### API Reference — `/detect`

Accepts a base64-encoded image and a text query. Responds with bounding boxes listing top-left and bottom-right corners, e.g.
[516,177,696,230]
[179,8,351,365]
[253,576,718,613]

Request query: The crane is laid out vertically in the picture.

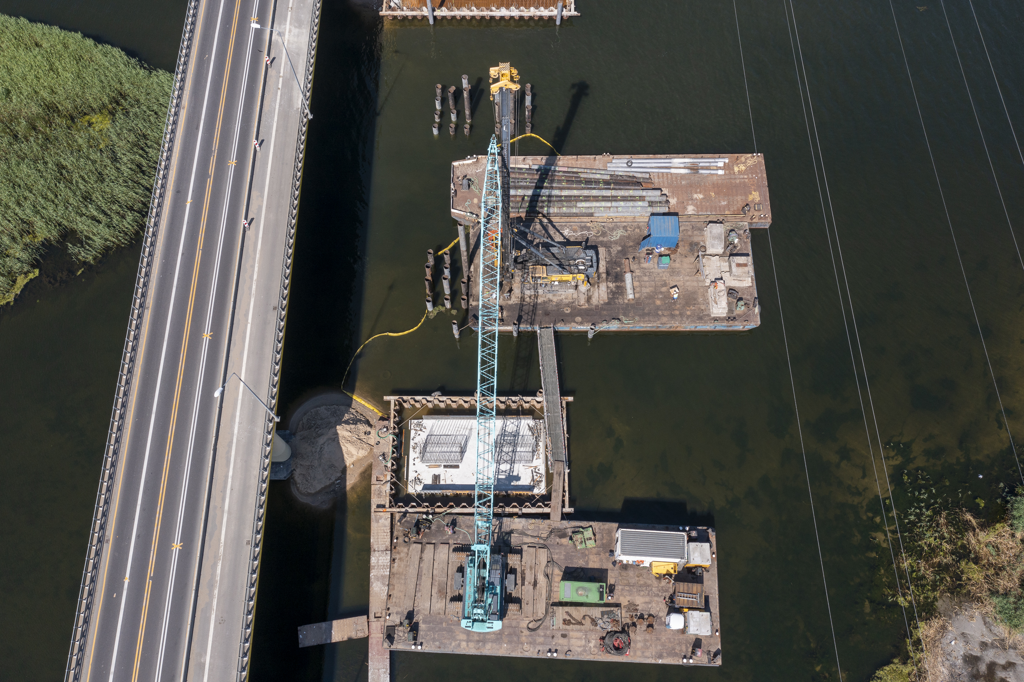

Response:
[446,130,521,630]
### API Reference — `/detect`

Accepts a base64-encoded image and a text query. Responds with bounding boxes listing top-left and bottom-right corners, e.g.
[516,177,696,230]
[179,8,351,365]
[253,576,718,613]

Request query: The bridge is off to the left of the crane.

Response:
[63,0,324,682]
